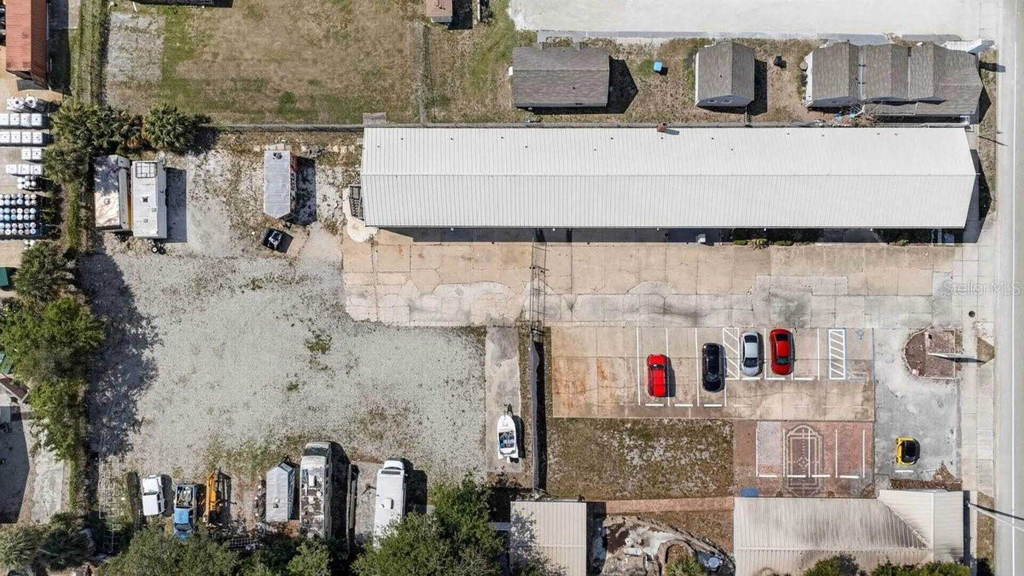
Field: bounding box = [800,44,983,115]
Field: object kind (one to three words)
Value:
house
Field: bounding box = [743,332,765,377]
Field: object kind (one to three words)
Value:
car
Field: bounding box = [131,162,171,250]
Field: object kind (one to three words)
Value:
camper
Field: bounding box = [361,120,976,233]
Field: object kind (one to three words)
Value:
building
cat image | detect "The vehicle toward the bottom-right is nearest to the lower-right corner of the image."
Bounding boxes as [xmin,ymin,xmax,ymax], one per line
[899,439,922,466]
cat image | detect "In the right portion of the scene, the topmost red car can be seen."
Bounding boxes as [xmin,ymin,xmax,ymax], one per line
[773,329,796,375]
